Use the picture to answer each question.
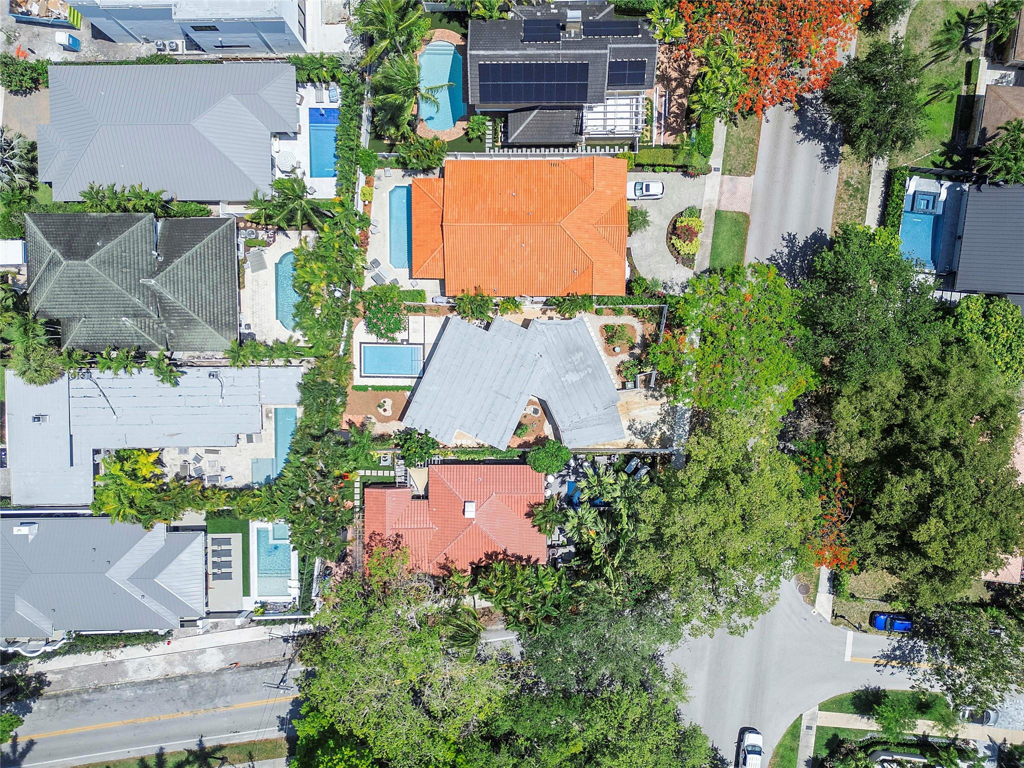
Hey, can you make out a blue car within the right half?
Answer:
Yes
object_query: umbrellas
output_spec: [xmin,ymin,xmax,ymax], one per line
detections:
[247,251,269,273]
[278,153,297,172]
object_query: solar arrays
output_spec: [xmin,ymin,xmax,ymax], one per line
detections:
[524,19,560,43]
[479,61,589,102]
[609,59,646,85]
[583,21,639,37]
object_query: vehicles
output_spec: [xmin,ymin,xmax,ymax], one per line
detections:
[627,180,664,200]
[871,612,914,633]
[740,727,763,768]
[955,706,998,728]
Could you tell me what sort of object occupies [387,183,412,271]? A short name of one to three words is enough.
swimming pool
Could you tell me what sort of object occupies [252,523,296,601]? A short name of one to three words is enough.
swimming pool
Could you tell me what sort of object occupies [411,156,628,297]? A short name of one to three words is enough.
house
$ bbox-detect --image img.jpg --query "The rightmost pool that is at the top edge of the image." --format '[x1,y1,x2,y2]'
[416,38,469,132]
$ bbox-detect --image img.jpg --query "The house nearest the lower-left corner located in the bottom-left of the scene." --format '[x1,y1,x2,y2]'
[0,517,215,638]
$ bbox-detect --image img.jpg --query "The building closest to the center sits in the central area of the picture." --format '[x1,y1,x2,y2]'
[402,316,625,451]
